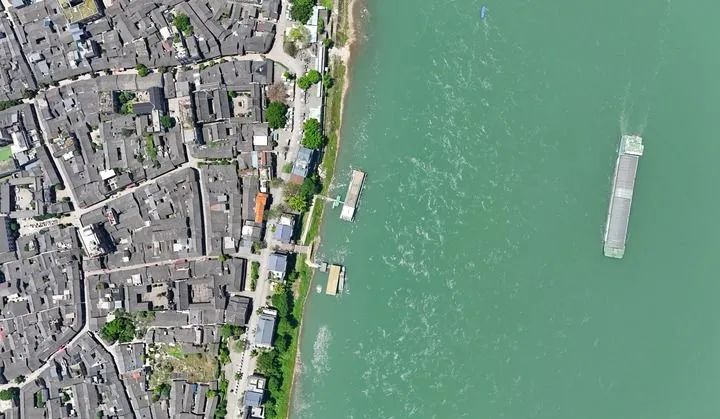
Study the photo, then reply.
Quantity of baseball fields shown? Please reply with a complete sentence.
Not a single baseball field can be seen.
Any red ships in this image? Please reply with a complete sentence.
No, the frame has no red ship in it.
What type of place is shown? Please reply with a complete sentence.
What you see here is a residential area.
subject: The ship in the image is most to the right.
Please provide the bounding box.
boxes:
[607,134,647,259]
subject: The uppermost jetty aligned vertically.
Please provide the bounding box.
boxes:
[338,169,365,224]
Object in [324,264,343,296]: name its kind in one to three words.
pier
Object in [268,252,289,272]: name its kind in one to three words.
house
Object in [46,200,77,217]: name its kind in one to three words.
house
